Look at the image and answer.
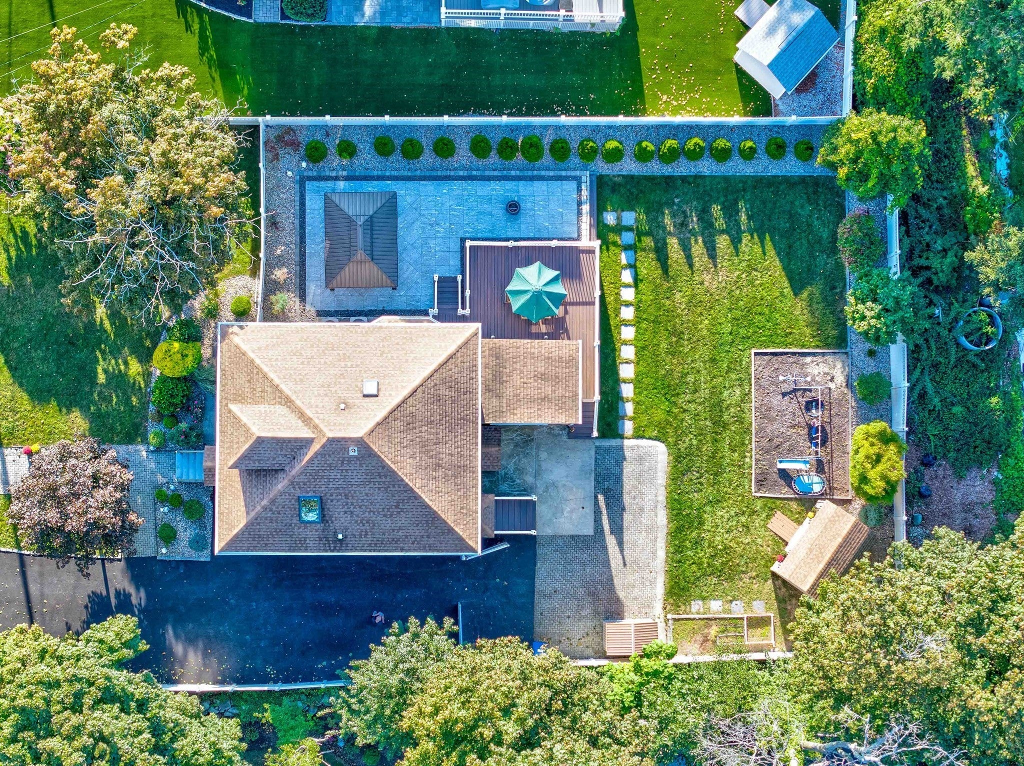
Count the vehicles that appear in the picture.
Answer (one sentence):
No vehicles are visible.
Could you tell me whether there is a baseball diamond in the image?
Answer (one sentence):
No, there isn't any baseball diamond down there.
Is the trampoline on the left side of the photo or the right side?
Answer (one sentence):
You can find the trampoline on the right side of the picture.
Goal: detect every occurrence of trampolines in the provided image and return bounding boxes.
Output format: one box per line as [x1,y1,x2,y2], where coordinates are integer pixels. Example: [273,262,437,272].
[792,474,825,494]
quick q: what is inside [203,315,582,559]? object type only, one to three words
house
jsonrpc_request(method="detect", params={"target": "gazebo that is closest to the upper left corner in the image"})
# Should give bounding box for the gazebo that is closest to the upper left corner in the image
[324,189,399,293]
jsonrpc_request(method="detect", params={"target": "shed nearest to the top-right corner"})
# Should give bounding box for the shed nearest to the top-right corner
[732,0,839,97]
